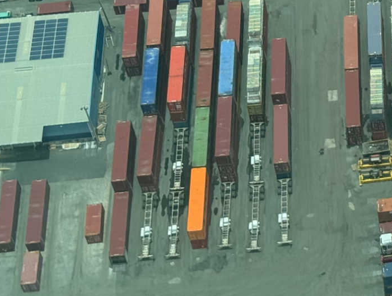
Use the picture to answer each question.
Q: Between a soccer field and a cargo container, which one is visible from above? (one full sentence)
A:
Looking from above, you can make out a cargo container.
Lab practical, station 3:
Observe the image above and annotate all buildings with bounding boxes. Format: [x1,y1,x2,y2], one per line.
[0,11,105,164]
